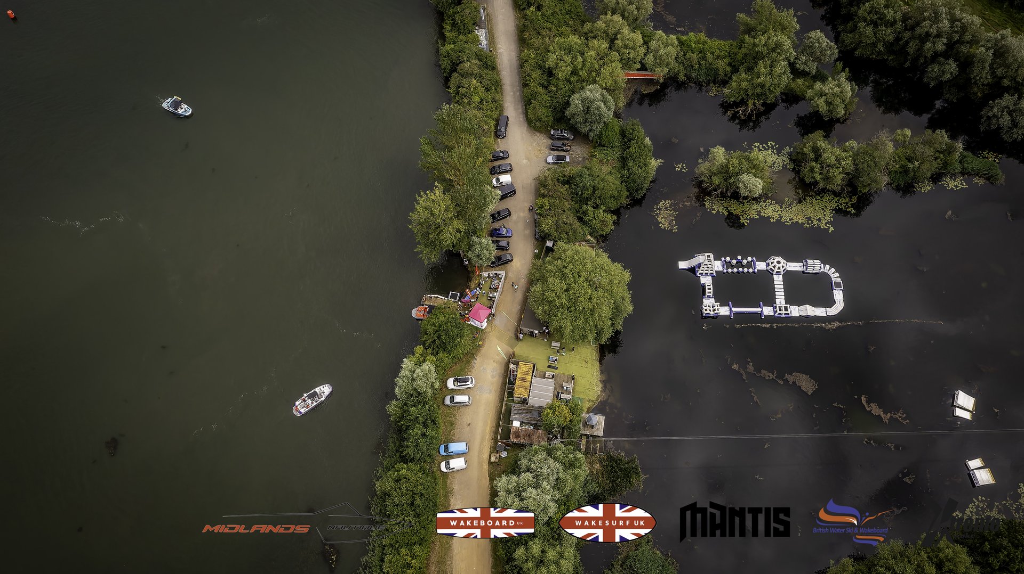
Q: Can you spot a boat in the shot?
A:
Yes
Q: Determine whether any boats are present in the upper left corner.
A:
Yes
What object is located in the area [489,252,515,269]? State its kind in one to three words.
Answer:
car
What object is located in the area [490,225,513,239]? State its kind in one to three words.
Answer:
car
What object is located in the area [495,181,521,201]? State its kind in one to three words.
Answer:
vehicle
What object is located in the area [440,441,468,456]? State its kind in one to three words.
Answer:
vehicle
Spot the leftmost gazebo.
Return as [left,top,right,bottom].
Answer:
[469,303,494,331]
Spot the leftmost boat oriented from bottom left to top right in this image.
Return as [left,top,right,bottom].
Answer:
[290,383,332,419]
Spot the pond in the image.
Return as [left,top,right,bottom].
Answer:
[578,0,1024,574]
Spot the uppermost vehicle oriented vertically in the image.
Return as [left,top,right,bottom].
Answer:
[496,114,508,136]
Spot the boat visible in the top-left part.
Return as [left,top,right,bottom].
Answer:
[161,96,189,113]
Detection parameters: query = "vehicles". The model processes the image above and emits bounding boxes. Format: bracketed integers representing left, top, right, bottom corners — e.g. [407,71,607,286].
[443,393,472,407]
[490,206,513,224]
[547,153,570,164]
[496,114,508,136]
[489,252,515,269]
[490,172,513,187]
[440,441,468,456]
[490,161,514,176]
[490,225,513,239]
[491,151,511,162]
[447,375,475,390]
[495,181,521,201]
[548,139,572,152]
[492,240,512,251]
[439,457,468,473]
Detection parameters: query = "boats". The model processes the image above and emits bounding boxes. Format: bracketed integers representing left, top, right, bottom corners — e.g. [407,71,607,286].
[161,96,189,113]
[290,383,332,419]
[411,305,434,319]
